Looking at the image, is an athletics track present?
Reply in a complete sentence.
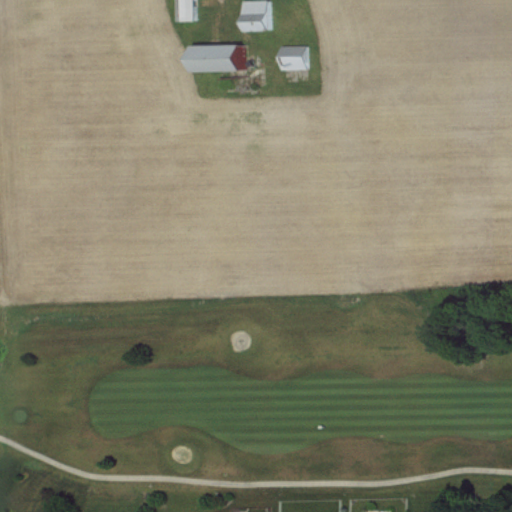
No, the picture doesn't show any athletics track.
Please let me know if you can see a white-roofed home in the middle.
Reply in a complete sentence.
No, the scene shows no white-roofed home in the middle.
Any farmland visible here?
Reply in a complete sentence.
Yes, farmland shows up in the scene.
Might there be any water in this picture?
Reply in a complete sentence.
No, no water is visible.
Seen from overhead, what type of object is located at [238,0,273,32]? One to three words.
house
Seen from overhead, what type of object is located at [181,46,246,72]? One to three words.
barn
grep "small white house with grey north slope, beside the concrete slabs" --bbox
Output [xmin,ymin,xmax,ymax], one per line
[276,47,310,71]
